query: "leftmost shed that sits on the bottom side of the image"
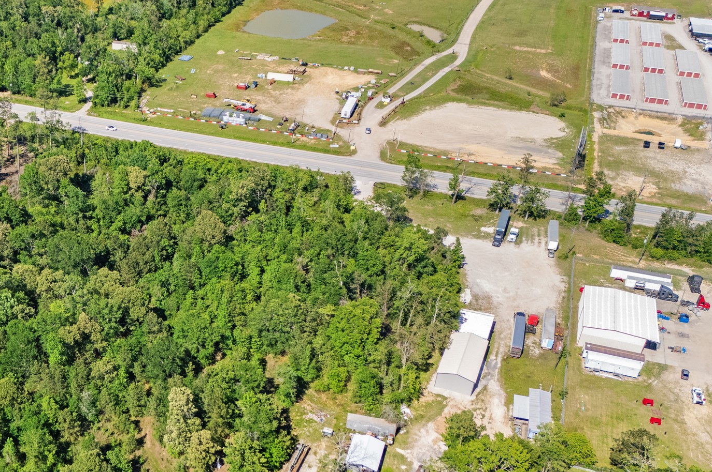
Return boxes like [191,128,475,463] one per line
[346,434,389,472]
